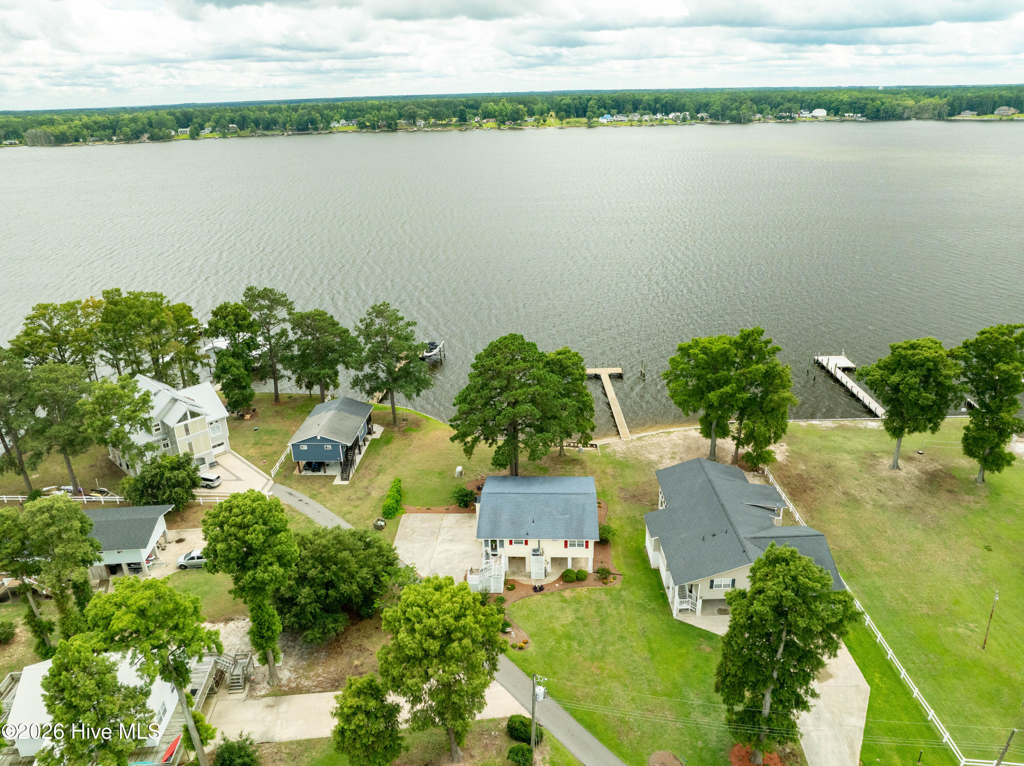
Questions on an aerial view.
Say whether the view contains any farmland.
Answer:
No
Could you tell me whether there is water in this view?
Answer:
Yes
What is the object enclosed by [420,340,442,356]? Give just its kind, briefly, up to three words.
boat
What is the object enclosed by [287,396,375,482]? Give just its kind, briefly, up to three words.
house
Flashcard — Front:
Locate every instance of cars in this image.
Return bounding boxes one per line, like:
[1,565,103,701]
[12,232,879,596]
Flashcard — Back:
[194,472,220,489]
[174,548,219,569]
